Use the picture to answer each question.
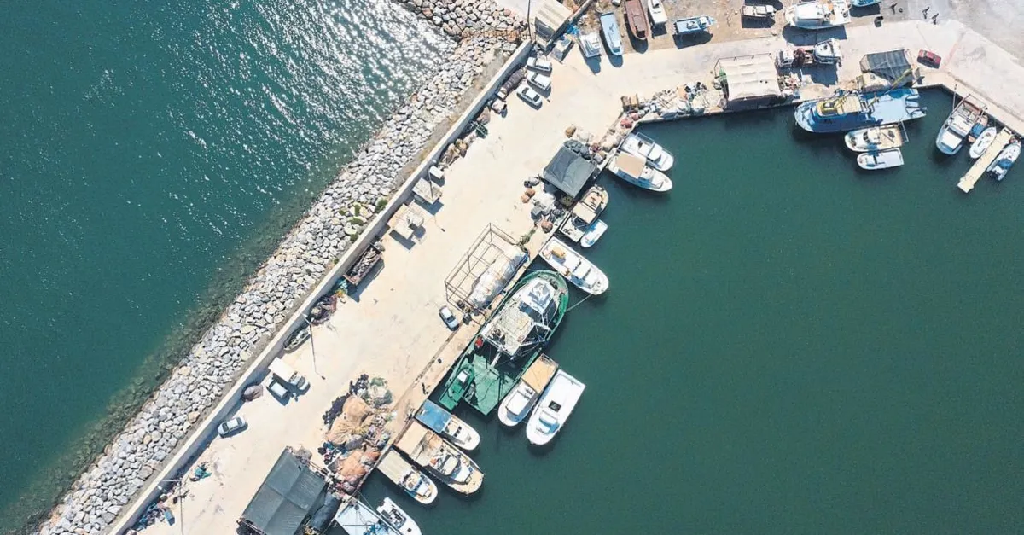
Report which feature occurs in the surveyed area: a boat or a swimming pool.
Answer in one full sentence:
The image shows a boat.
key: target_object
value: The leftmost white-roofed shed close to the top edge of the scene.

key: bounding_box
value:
[532,0,576,48]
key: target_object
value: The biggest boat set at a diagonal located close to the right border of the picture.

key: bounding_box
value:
[938,90,997,156]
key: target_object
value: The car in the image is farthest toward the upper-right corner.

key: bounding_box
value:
[919,50,944,68]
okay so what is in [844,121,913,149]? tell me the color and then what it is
white boat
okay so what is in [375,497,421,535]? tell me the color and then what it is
white boat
